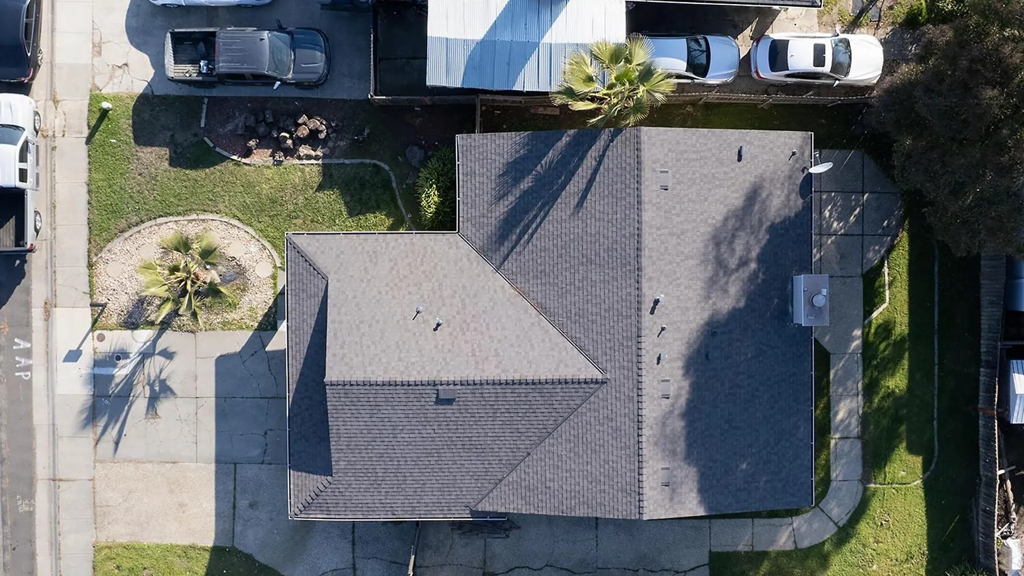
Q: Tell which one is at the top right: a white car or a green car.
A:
white car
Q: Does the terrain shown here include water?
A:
No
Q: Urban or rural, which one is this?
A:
urban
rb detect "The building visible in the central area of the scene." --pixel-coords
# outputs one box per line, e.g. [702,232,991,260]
[286,125,831,520]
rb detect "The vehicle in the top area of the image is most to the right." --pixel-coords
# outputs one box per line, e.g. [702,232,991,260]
[747,26,881,91]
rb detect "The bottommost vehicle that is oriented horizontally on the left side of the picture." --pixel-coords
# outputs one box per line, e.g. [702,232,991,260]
[164,20,331,89]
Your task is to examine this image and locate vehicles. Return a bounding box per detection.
[164,20,331,89]
[150,0,280,13]
[0,0,45,87]
[747,26,881,91]
[624,26,738,91]
[0,95,43,256]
